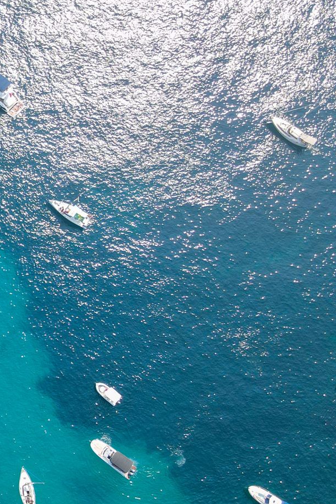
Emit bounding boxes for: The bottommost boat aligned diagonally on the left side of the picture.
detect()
[90,439,137,481]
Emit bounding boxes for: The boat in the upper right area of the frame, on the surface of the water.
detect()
[269,100,328,152]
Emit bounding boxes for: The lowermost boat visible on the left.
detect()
[18,467,40,504]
